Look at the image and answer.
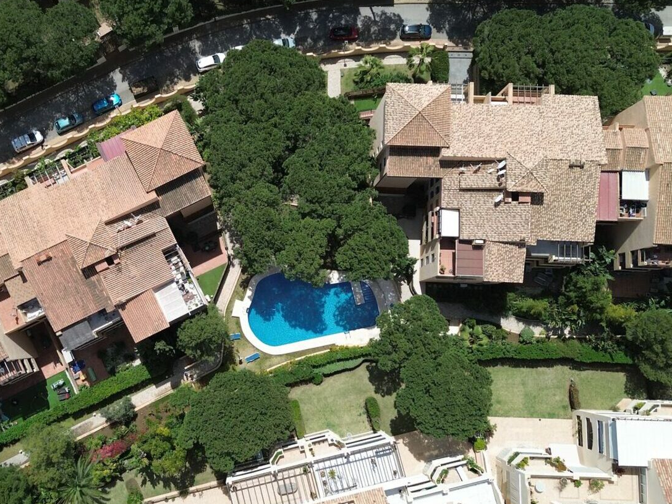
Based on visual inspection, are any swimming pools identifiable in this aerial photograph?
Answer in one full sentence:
Yes, I can see a swimming pool in this picture.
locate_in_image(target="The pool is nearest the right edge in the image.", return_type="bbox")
[247,273,379,346]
